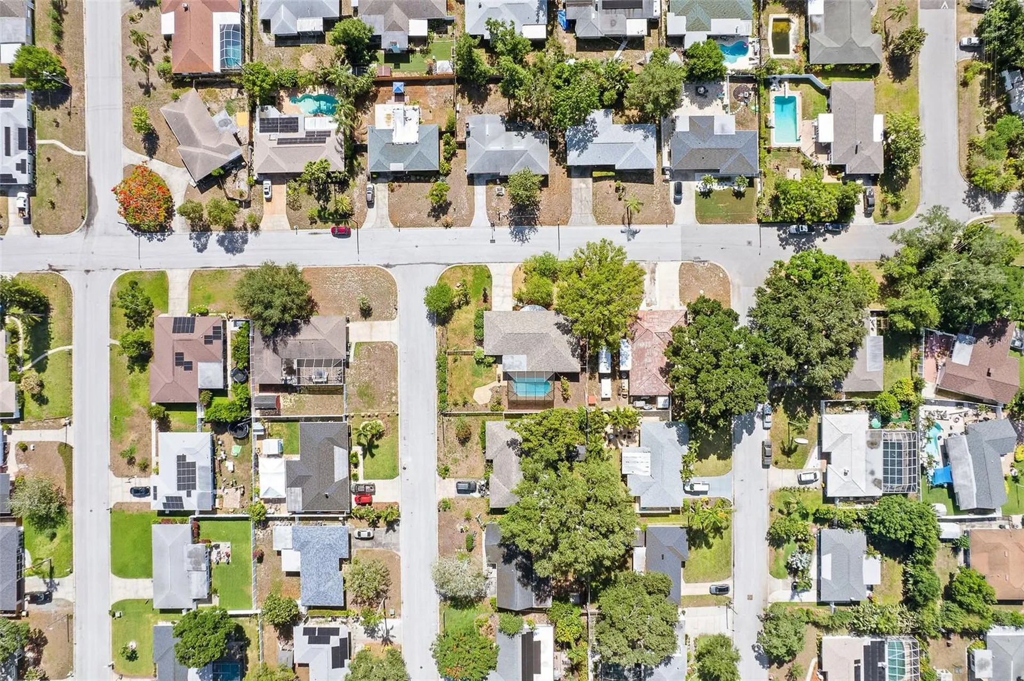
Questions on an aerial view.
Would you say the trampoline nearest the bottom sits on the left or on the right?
left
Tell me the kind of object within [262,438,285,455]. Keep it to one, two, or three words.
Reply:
shed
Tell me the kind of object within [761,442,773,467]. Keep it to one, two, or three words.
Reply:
vehicle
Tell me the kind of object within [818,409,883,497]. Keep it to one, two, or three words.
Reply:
house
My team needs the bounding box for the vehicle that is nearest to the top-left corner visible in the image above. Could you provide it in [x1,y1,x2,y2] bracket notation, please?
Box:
[16,193,29,218]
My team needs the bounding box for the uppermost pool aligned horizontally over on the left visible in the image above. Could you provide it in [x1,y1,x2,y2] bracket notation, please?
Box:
[290,93,340,116]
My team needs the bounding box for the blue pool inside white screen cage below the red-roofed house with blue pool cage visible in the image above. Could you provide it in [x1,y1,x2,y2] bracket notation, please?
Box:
[221,27,241,67]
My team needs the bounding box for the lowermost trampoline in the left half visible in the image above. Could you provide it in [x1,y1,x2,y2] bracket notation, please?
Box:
[228,418,249,439]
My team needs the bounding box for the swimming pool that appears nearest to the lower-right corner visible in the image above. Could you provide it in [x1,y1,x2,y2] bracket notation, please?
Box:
[888,640,908,681]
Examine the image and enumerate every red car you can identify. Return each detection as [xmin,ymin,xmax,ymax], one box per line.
[331,226,351,236]
[354,495,374,505]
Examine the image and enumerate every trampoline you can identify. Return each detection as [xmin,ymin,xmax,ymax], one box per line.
[228,418,249,439]
[228,368,248,384]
